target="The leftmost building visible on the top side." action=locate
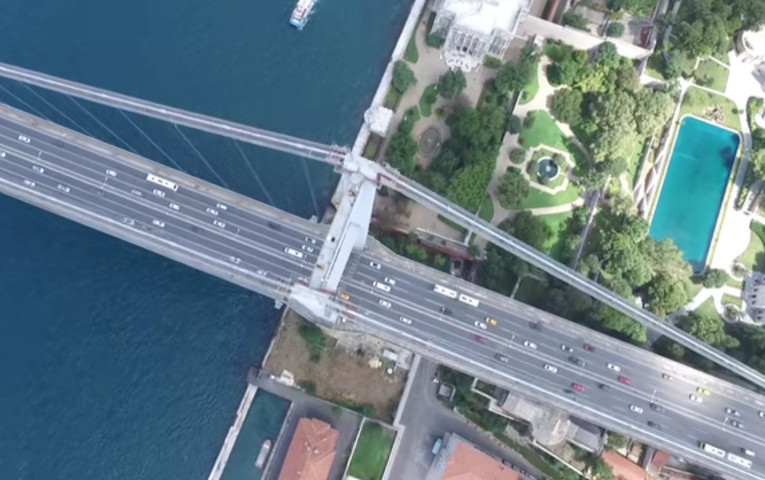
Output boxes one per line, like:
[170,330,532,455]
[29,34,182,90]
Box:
[365,107,391,137]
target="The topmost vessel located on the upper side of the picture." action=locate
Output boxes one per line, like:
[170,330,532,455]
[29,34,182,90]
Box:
[296,0,318,24]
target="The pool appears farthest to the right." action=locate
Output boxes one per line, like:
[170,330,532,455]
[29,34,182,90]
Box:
[648,113,744,278]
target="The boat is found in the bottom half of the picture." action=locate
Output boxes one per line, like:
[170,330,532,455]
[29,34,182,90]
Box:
[255,439,270,469]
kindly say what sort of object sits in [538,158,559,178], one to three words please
fountain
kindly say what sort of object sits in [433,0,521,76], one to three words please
building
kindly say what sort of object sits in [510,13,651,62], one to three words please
building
